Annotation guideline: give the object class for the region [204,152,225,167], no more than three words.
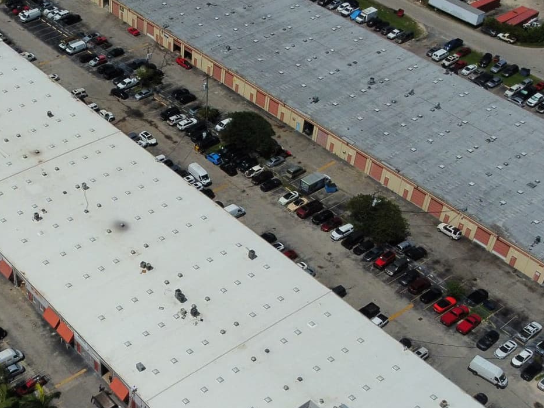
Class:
car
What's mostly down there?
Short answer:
buildings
